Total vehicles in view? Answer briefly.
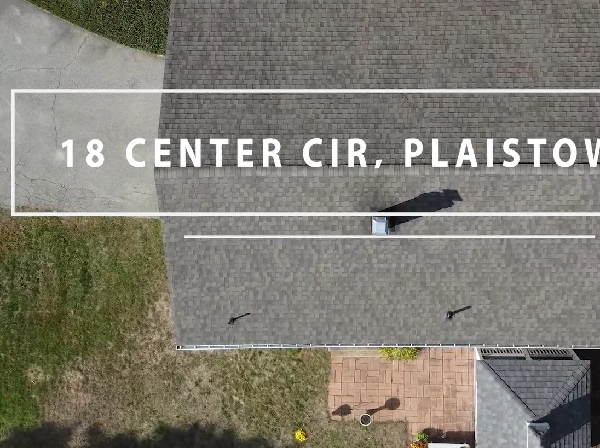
0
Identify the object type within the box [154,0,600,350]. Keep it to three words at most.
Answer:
house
